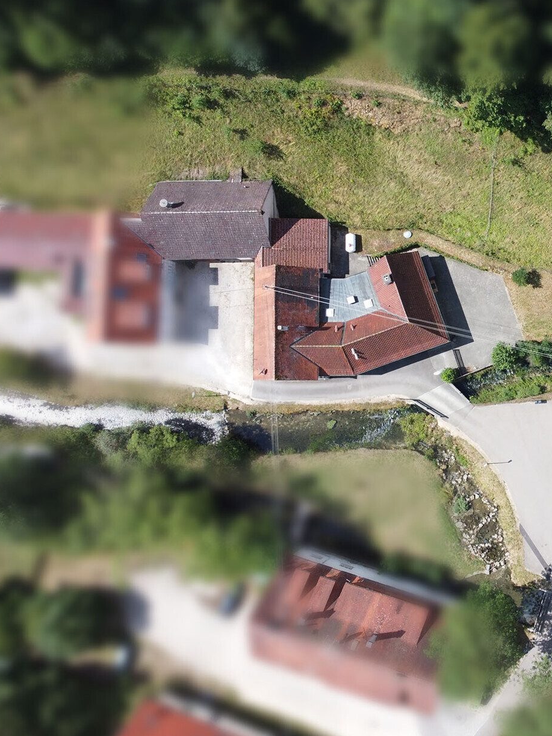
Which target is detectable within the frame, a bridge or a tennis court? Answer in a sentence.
This aerial view contains a bridge.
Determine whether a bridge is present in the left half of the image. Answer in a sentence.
No, there's no bridge to be seen in the left half of the image.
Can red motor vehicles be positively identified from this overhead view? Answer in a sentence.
No, the scene contains no red motor vehicle.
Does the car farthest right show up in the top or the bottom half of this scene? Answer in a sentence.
You can find the car farthest right in the bottom half.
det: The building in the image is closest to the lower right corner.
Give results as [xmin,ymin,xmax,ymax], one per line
[251,550,459,718]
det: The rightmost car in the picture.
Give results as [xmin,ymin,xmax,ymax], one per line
[214,584,243,621]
